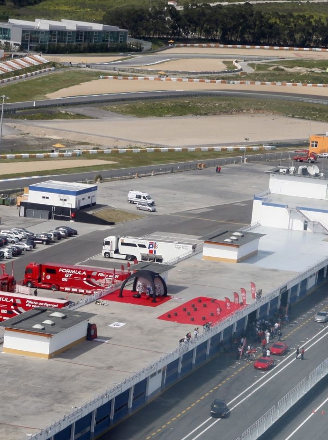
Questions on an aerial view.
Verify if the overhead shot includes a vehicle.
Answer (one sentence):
Yes, looking at the shot, I can spot a vehicle.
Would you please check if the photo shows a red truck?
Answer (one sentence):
Yes, the image includes a red truck.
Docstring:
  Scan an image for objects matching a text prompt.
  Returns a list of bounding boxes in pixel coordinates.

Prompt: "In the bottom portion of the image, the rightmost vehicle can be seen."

[314,310,328,323]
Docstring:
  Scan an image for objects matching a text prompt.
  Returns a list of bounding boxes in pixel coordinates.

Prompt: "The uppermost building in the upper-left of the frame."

[0,16,134,51]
